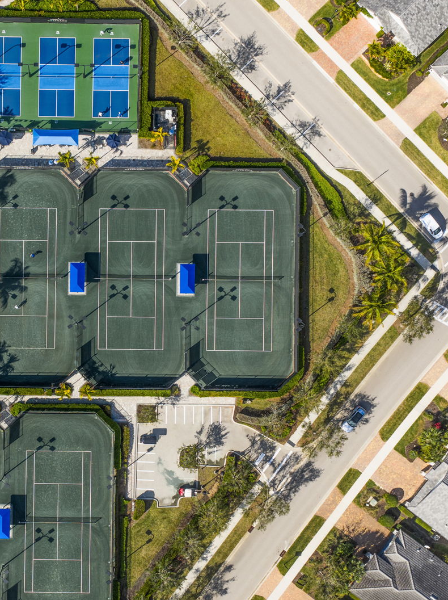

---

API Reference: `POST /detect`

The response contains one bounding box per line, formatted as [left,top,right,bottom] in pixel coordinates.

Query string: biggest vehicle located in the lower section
[341,405,366,432]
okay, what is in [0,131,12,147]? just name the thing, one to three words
umbrella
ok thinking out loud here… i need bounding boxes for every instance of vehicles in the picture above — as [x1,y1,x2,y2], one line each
[142,434,158,443]
[180,486,196,495]
[419,210,442,241]
[341,405,366,432]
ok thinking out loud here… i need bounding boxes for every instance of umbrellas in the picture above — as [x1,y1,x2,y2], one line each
[105,133,120,149]
[0,131,12,147]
